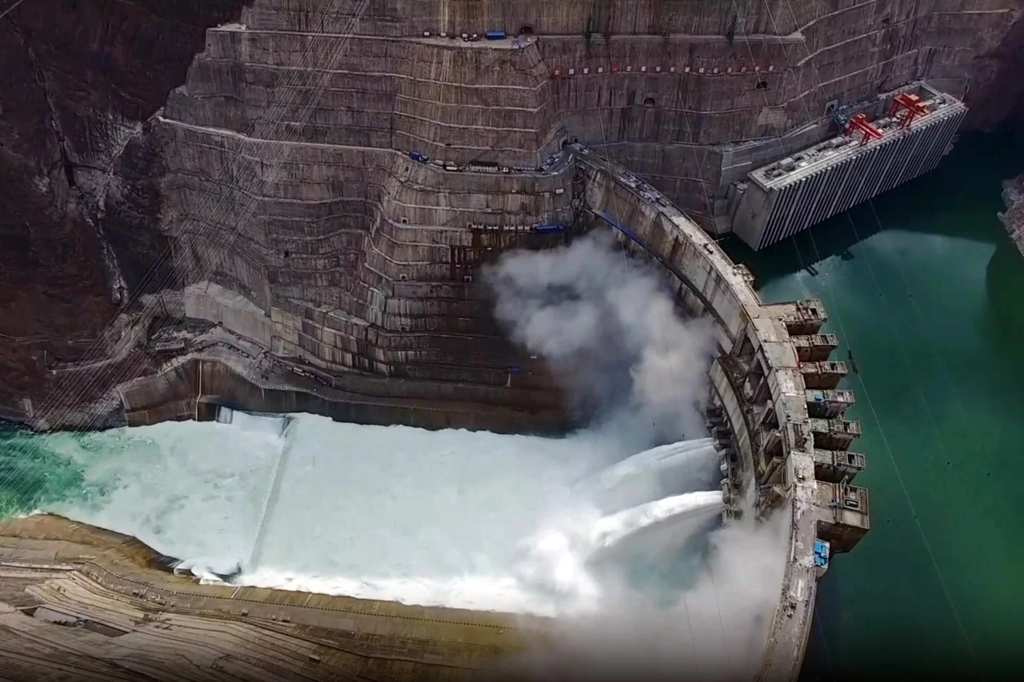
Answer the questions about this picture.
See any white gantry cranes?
No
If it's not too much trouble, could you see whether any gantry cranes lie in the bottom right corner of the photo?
No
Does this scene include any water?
Yes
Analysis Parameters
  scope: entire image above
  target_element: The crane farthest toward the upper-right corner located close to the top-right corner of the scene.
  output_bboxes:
[894,80,949,123]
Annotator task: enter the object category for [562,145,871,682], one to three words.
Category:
dam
